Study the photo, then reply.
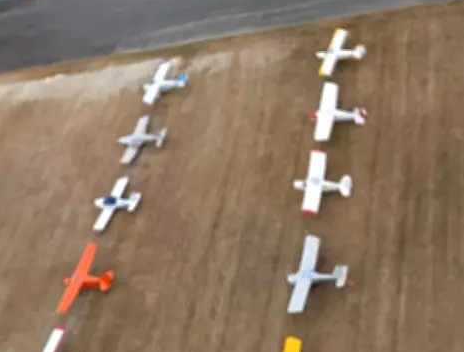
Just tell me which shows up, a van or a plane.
plane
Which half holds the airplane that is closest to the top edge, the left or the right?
right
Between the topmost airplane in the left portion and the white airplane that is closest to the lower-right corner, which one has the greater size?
the white airplane that is closest to the lower-right corner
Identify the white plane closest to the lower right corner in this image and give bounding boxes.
[286,236,351,313]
